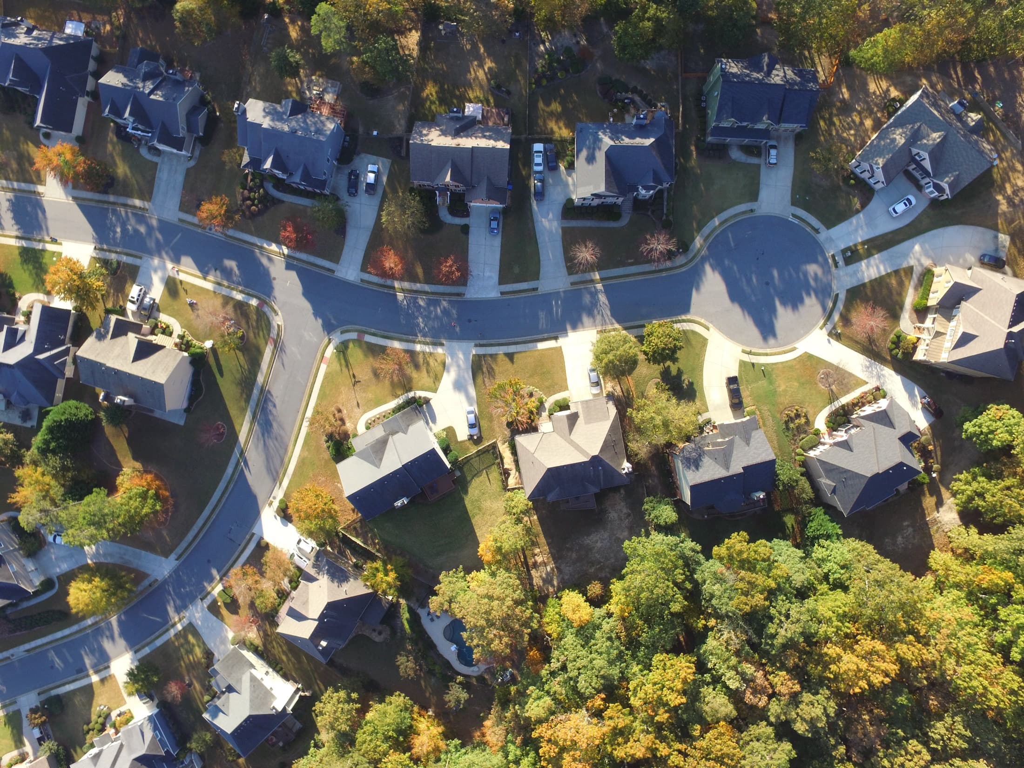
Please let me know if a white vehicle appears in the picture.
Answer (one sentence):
Yes, a white vehicle is visible in the scene.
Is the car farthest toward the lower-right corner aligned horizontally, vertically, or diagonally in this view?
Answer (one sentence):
In this picture, the car farthest toward the lower-right corner is oriented diagonally.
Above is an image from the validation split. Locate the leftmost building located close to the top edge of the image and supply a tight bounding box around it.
[0,14,112,143]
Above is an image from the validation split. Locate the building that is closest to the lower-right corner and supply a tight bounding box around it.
[803,395,925,517]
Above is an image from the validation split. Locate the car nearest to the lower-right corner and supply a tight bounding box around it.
[918,395,945,421]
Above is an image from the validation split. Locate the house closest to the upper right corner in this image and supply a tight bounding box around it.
[837,85,996,206]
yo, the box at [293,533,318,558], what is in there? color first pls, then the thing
white car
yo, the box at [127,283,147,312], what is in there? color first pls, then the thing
white car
